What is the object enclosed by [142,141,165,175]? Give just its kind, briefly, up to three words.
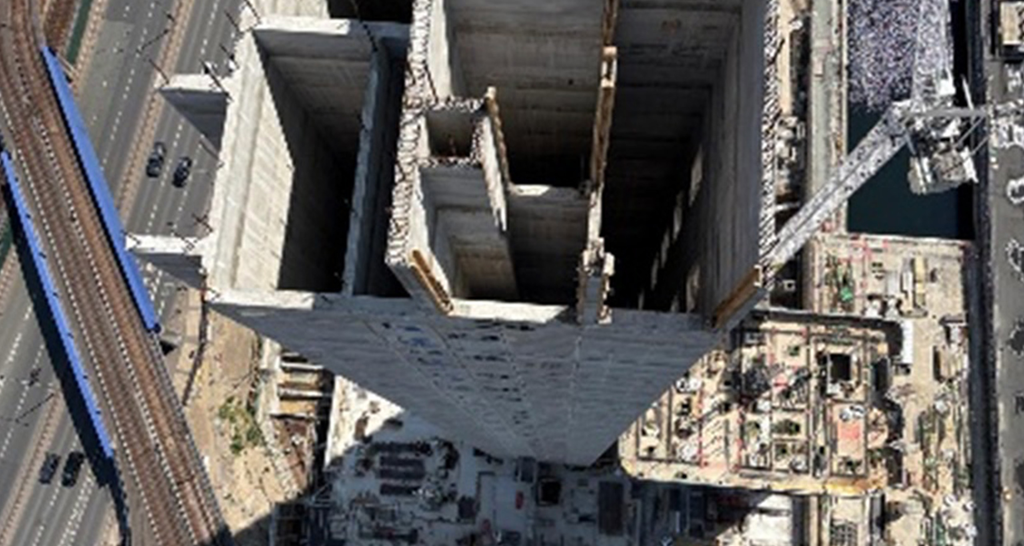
car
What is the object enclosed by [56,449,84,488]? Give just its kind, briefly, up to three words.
car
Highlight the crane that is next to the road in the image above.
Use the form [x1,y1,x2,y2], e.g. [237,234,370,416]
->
[780,0,1001,273]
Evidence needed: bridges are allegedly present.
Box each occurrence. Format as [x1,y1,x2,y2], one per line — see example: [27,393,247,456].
[0,0,236,546]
